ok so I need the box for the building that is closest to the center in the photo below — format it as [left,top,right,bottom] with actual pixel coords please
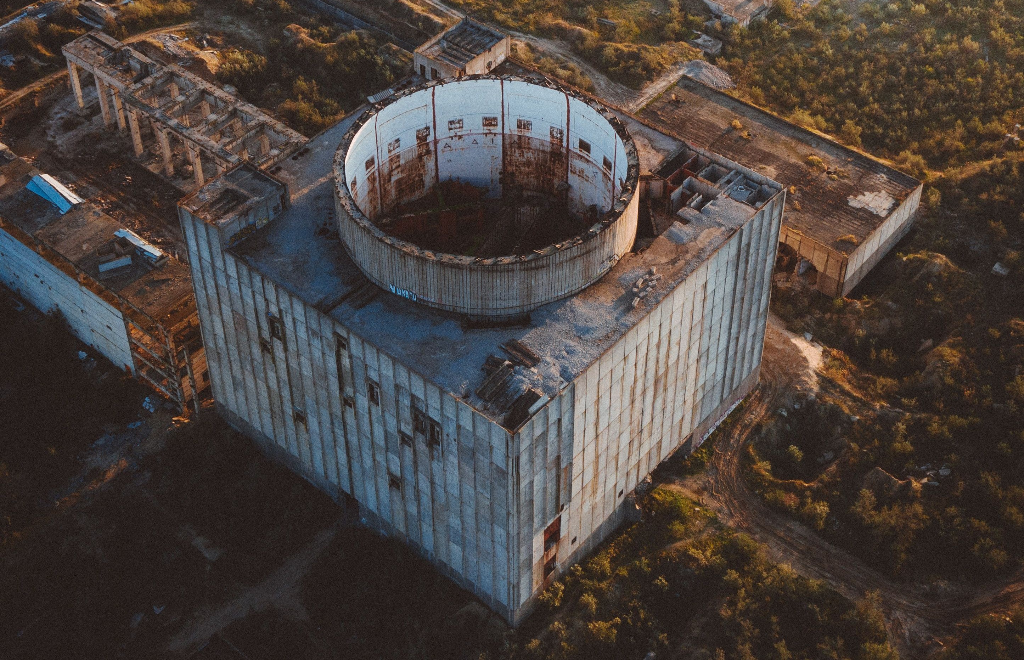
[175,14,790,624]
